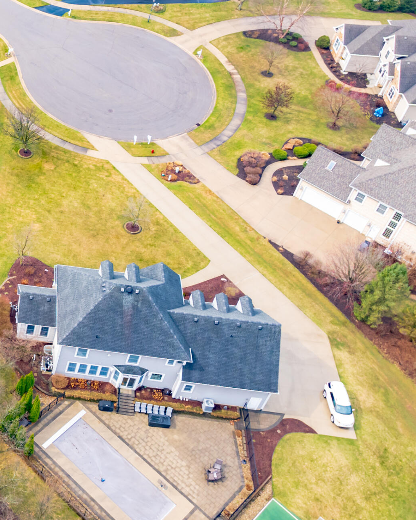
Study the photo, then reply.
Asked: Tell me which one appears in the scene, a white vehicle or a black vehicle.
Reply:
white vehicle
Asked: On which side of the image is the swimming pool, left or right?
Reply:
left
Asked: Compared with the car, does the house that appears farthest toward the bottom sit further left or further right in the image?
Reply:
to the left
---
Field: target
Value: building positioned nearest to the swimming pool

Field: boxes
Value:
[16,257,283,414]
